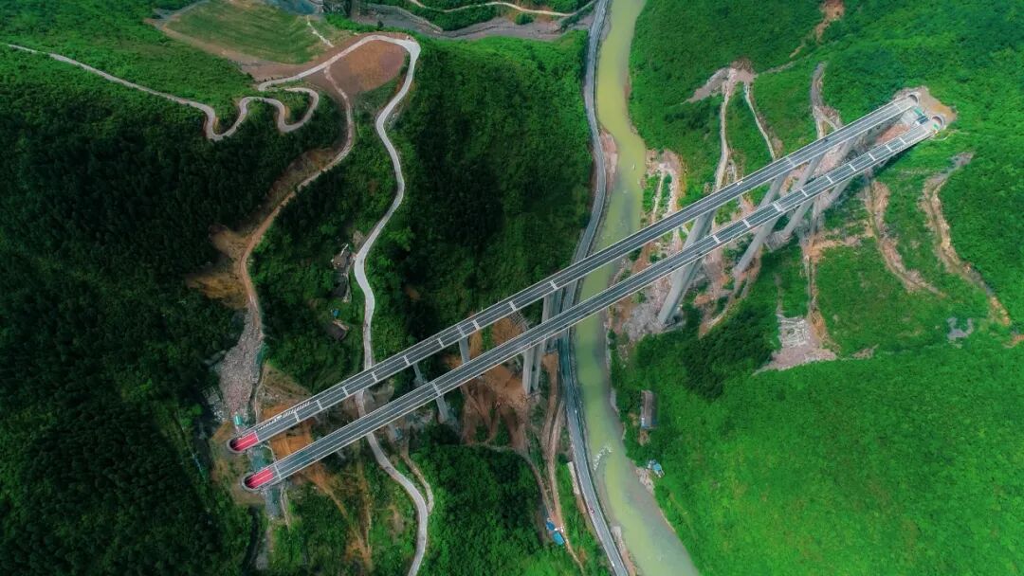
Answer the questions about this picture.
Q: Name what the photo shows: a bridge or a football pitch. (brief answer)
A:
bridge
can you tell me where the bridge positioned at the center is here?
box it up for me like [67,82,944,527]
[249,117,944,490]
